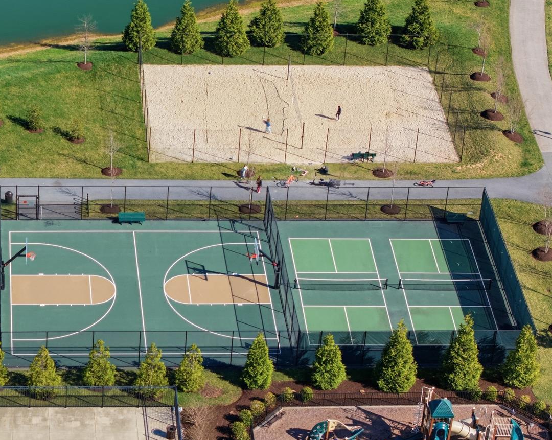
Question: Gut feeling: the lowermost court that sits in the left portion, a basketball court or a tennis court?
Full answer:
The lowermost court that sits in the left portion appears to be a basketball court.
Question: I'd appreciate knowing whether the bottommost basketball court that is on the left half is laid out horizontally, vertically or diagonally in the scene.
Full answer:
From this overhead view, the bottommost basketball court that is on the left half appears to run horizontally.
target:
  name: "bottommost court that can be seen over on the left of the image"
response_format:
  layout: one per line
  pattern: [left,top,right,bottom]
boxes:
[9,231,281,354]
